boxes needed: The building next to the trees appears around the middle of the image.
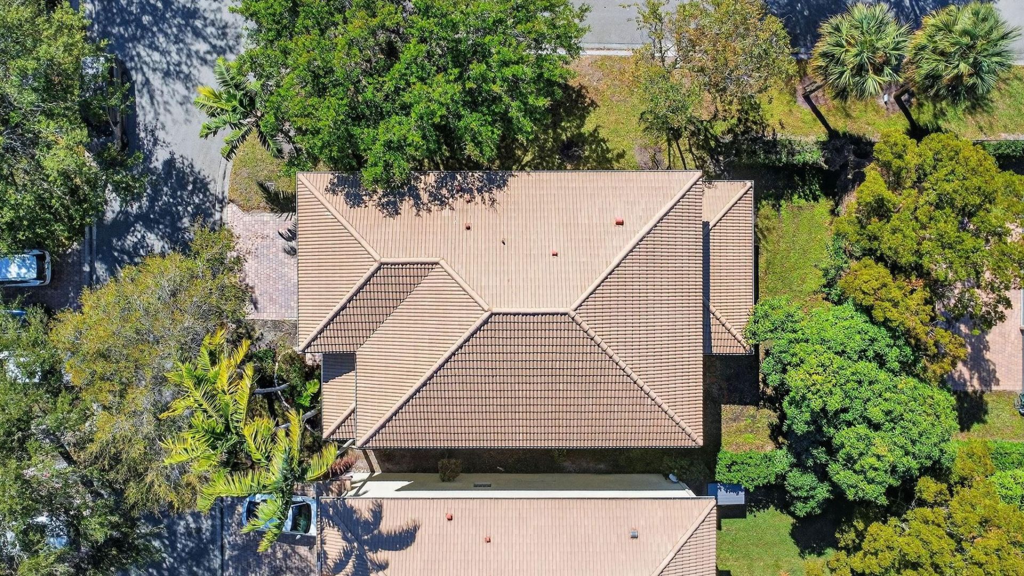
[293,169,755,450]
